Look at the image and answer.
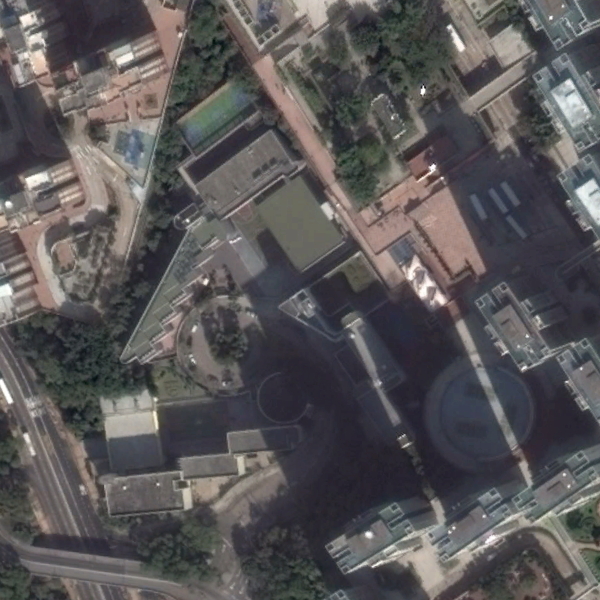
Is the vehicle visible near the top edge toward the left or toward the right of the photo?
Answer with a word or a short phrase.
right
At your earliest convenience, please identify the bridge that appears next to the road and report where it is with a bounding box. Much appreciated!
[0,527,227,600]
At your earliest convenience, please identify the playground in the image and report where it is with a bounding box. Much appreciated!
[113,128,154,178]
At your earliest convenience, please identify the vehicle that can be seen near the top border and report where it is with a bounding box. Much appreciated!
[446,25,466,52]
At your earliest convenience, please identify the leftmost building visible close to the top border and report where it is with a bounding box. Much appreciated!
[0,0,78,86]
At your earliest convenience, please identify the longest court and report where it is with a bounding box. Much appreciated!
[175,77,259,153]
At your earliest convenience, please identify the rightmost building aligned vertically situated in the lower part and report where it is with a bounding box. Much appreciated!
[557,333,600,427]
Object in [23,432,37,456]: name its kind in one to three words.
vehicle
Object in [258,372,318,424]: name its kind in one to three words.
building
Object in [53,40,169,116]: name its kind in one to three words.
building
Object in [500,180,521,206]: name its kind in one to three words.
bus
